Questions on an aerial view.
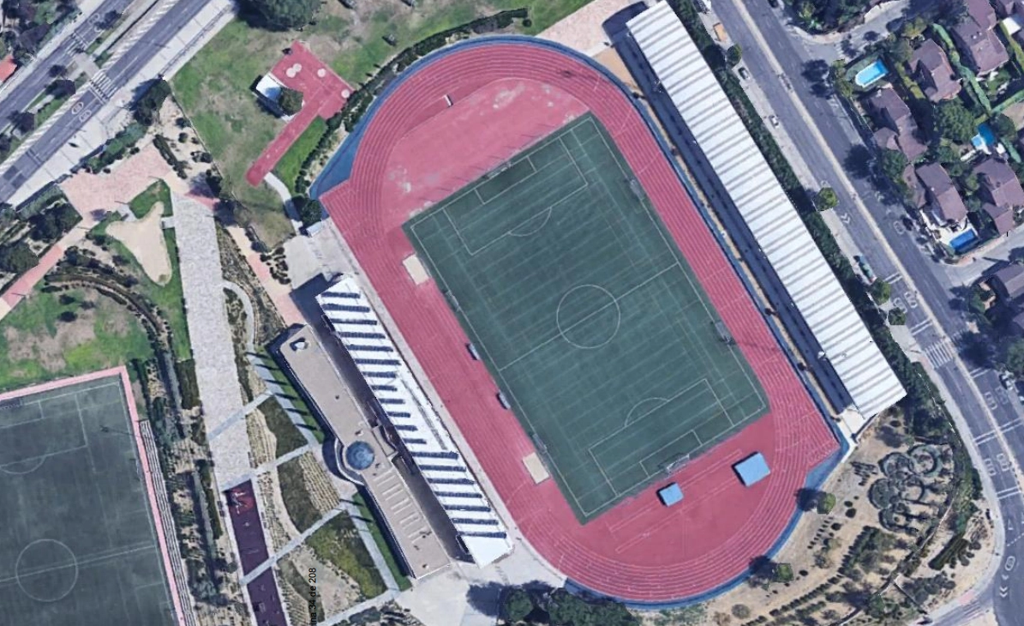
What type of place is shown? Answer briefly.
sports ground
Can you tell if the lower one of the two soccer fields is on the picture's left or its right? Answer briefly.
left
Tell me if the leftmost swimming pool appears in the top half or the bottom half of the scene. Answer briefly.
top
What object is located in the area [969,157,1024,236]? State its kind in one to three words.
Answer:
house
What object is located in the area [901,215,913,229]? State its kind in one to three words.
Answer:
vehicle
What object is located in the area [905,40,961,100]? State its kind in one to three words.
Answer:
house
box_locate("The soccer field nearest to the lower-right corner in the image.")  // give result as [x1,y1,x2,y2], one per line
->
[401,111,770,524]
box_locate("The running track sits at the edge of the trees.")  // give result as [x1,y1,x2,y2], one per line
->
[310,34,849,610]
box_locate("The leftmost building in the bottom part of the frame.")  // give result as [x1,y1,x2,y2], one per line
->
[280,325,450,577]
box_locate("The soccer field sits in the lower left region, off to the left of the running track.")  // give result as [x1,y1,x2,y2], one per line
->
[0,366,183,626]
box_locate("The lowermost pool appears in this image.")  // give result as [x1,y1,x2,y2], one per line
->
[950,229,978,250]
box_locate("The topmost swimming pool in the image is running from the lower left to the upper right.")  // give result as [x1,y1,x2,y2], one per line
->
[856,60,888,85]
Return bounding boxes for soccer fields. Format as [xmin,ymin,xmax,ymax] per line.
[0,366,183,626]
[401,111,770,524]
